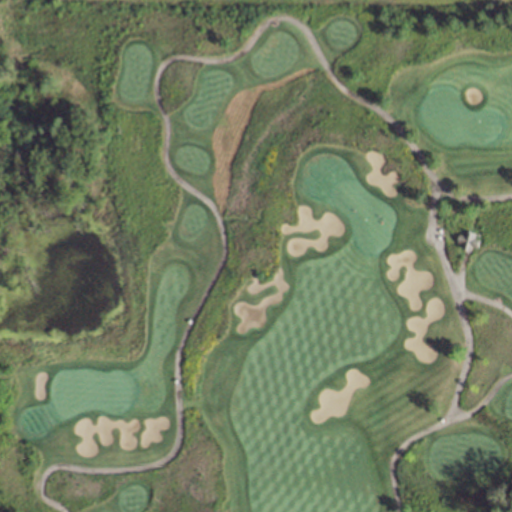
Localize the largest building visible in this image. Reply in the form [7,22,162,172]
[463,230,482,256]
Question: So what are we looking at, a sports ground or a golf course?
golf course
